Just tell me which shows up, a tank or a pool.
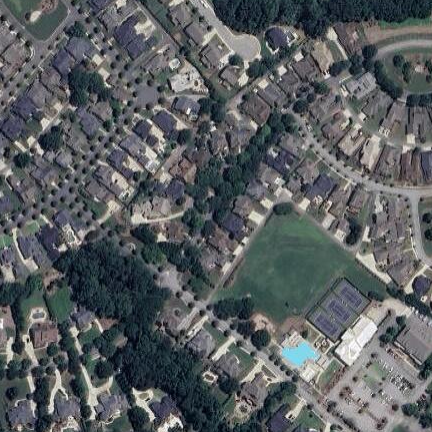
pool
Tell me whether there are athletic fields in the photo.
Yes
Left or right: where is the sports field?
right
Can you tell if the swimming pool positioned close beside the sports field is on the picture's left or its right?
right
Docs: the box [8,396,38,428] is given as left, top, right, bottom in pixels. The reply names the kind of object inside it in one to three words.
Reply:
house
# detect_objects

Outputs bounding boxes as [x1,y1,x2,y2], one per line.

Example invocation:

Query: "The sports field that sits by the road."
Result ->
[212,214,386,326]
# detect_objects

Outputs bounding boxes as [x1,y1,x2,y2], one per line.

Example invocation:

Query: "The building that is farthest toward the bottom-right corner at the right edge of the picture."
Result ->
[393,323,432,367]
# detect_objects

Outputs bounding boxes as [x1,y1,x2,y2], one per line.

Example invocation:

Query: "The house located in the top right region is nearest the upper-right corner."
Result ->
[335,20,365,56]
